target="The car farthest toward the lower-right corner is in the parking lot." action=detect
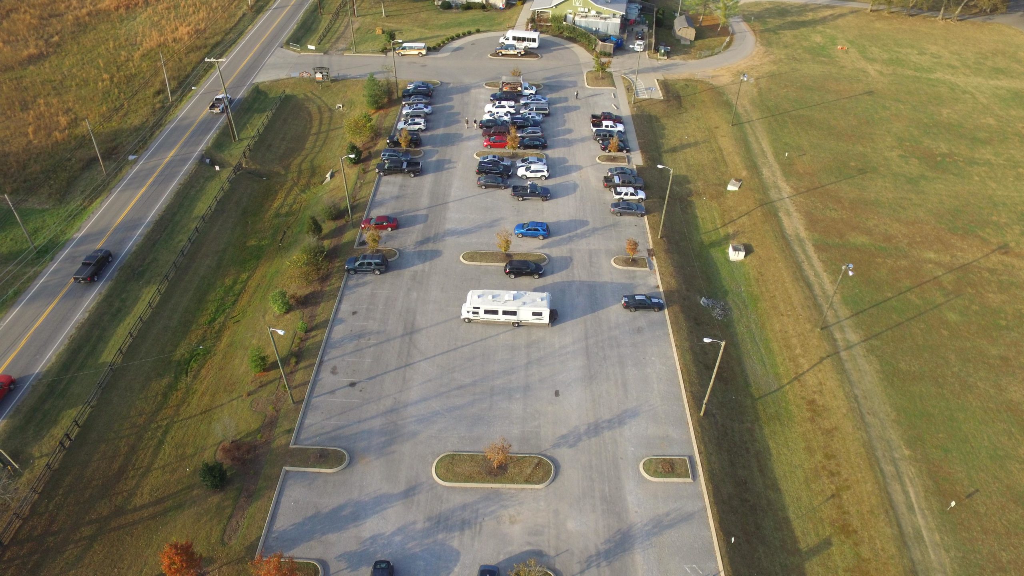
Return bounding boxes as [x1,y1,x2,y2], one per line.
[621,292,663,311]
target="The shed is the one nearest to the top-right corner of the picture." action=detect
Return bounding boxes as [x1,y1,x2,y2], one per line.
[675,12,696,43]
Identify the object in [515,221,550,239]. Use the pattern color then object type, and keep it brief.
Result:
blue car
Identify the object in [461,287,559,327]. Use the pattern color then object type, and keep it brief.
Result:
white camper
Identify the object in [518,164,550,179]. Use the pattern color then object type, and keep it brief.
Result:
white car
